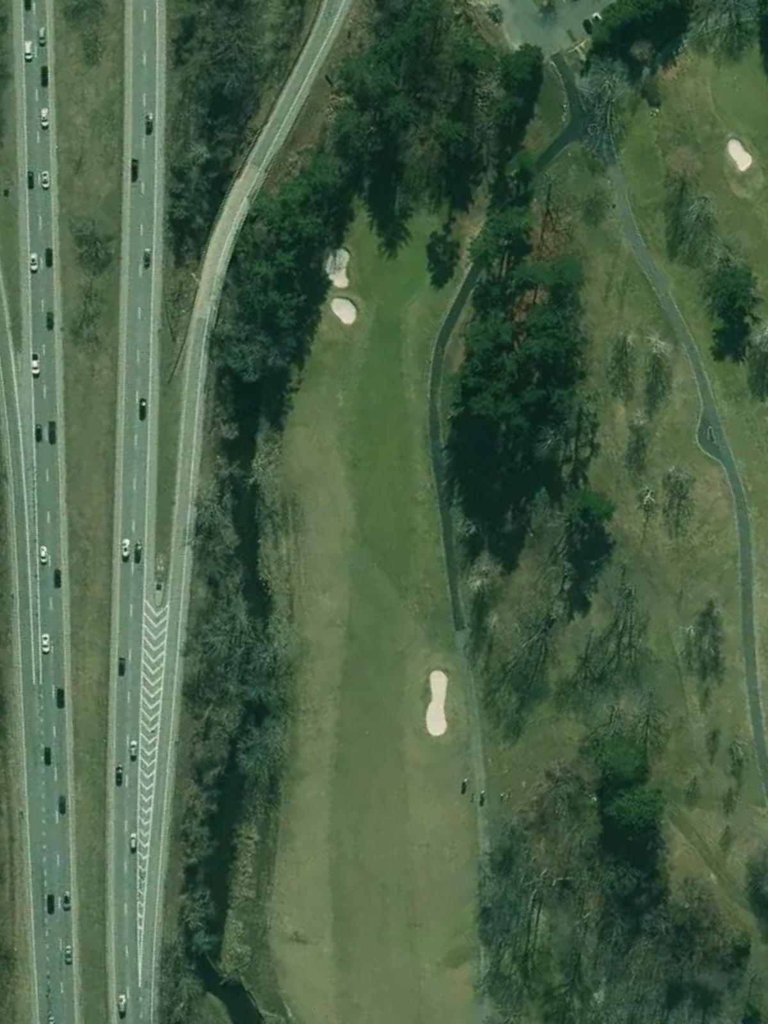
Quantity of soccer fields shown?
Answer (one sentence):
There are no soccer fields in the image.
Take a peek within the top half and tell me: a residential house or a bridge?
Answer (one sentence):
The feature located within the top half is a bridge.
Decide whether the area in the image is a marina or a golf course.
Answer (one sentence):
What you see here is a golf course.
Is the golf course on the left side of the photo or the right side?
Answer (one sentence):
The golf course sits on the right side.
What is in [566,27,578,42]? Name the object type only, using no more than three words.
vehicle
